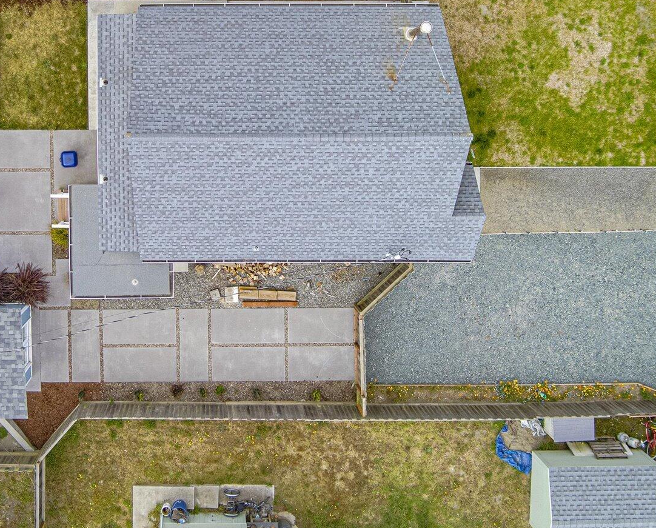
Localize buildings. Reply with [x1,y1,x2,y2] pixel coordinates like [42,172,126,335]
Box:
[69,1,483,300]
[527,449,656,528]
[536,416,592,440]
[0,292,47,418]
[156,513,247,528]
